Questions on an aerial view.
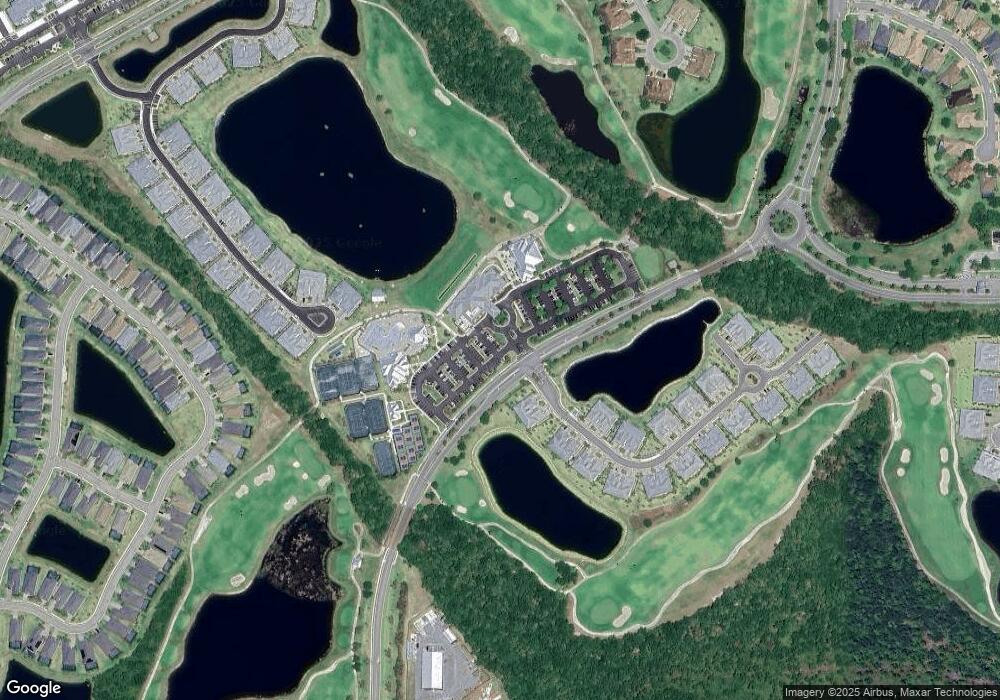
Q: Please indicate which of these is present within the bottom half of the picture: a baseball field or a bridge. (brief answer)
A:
bridge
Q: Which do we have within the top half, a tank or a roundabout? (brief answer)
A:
roundabout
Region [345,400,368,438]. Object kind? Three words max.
tennis court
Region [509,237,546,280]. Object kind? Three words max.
building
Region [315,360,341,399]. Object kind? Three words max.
tennis court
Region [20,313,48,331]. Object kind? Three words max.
house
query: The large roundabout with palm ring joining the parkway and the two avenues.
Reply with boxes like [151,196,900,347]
[762,199,810,248]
